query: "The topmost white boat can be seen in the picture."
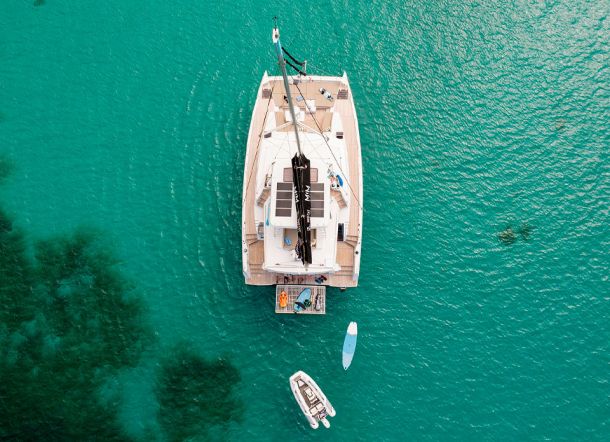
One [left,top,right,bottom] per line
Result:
[242,9,363,315]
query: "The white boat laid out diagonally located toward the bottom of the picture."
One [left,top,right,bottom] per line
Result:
[293,372,334,429]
